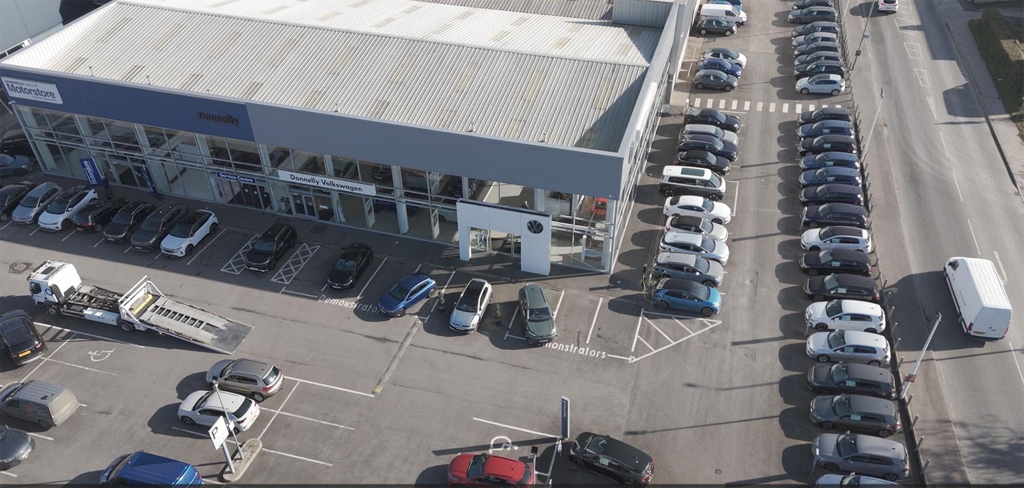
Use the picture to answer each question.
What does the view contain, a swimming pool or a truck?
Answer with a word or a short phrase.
truck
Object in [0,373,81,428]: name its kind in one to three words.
van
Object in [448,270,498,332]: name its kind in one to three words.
car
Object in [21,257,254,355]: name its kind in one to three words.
truck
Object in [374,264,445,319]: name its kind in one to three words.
car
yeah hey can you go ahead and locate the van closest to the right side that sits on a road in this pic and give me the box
[947,262,1021,343]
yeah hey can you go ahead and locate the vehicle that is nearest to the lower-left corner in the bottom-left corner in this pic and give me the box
[0,421,37,470]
